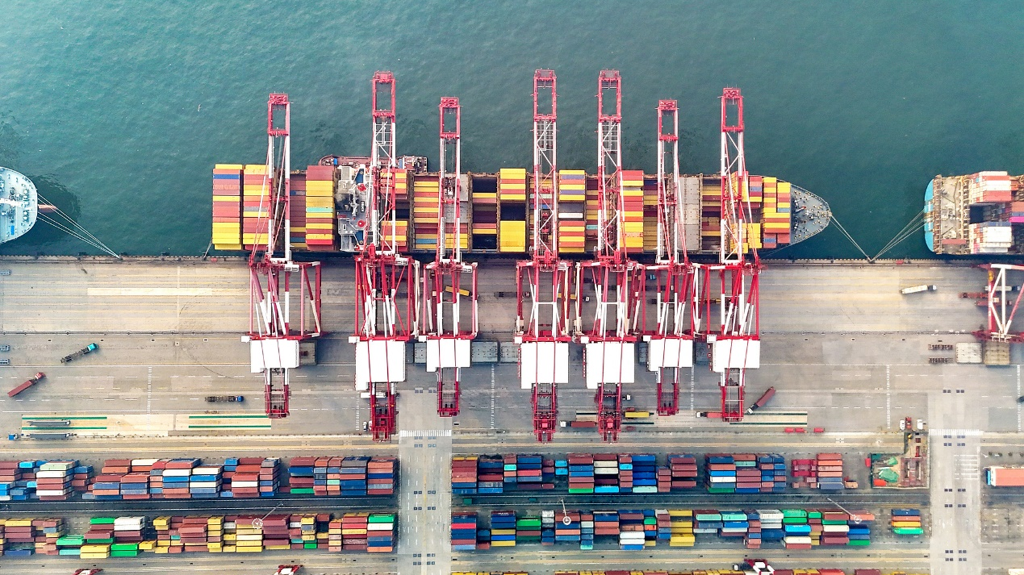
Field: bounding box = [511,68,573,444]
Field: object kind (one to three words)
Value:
container crane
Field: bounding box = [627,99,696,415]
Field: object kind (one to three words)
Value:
container crane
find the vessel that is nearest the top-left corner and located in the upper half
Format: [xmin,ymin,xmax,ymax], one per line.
[0,167,57,244]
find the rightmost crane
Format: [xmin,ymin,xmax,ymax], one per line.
[971,262,1024,337]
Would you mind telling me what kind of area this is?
port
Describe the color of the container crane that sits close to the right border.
white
